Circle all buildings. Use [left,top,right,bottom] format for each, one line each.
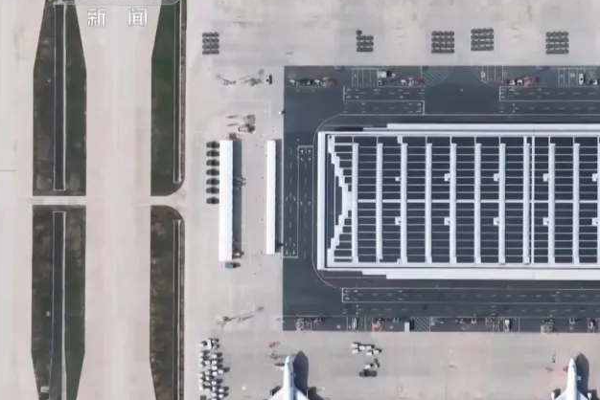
[219,139,236,261]
[266,140,278,255]
[318,124,600,280]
